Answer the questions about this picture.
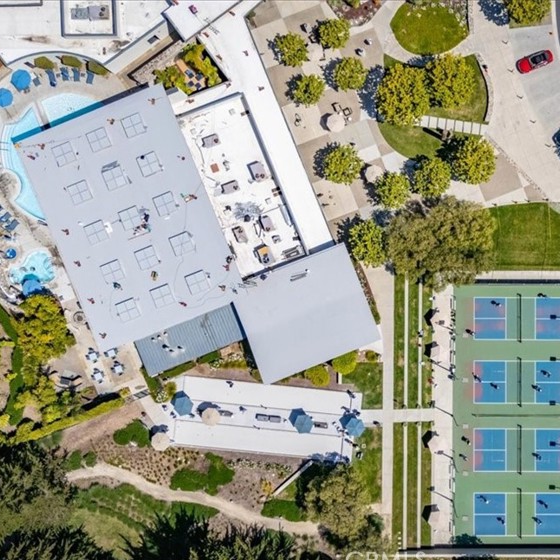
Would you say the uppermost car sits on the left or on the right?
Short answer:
right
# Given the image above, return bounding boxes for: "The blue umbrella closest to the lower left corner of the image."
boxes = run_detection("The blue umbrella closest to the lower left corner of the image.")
[174,396,193,417]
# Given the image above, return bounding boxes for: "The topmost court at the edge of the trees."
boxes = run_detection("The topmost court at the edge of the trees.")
[454,286,560,350]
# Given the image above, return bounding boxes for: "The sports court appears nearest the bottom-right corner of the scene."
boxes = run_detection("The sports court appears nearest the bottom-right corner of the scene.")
[454,482,560,548]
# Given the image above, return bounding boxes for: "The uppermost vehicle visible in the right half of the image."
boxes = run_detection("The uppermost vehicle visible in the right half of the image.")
[519,50,556,72]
